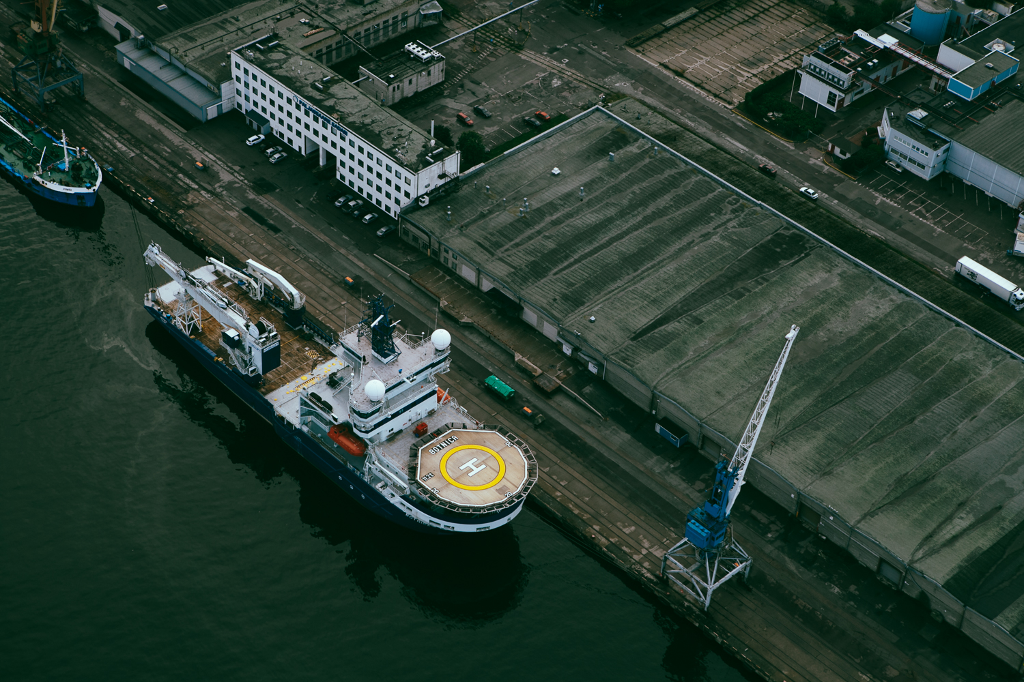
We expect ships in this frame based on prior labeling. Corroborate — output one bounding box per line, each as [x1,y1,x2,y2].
[142,237,537,532]
[0,96,100,208]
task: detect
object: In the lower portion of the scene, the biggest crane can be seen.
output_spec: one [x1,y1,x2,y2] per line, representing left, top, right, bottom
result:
[655,324,797,614]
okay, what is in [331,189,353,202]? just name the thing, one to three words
vehicle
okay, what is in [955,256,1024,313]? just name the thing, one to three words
truck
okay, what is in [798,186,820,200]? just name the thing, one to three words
car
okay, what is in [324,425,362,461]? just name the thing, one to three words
boat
